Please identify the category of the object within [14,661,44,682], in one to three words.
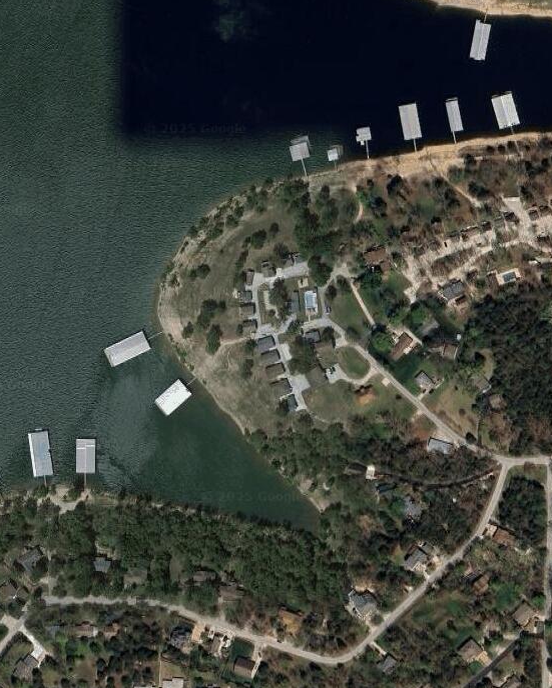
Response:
house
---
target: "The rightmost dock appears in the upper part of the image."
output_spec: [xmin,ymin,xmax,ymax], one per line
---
[492,91,519,134]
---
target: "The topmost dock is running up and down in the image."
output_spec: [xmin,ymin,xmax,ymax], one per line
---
[470,11,491,61]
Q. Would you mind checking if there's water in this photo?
Yes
